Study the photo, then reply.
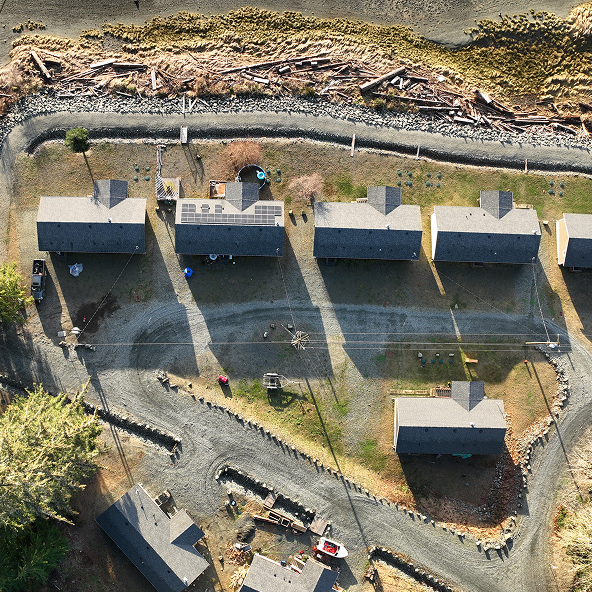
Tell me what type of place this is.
residential area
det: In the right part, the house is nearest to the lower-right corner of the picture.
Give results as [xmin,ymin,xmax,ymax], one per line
[390,380,507,459]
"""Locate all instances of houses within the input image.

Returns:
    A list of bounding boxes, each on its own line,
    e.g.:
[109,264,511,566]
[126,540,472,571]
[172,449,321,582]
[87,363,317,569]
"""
[174,178,284,266]
[96,483,210,592]
[36,179,147,263]
[390,380,507,459]
[556,213,592,279]
[430,190,542,273]
[312,186,423,269]
[239,551,346,592]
